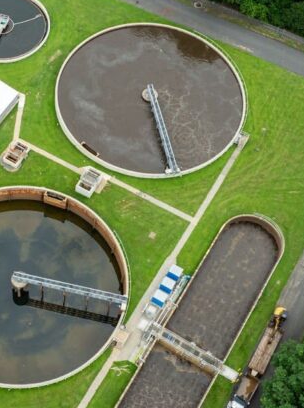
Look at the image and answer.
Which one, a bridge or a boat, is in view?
bridge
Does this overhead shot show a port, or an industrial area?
industrial area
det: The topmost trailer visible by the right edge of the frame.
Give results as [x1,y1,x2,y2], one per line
[250,308,293,371]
